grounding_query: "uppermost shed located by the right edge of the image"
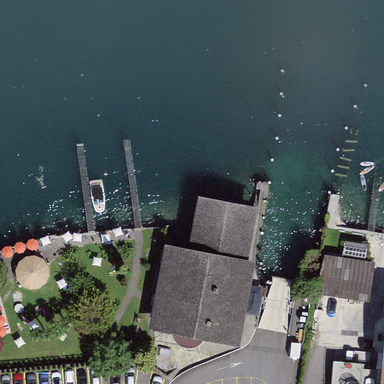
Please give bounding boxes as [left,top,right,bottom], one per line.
[344,240,368,257]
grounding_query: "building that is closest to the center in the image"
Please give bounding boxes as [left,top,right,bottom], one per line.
[188,196,259,259]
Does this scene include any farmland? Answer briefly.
No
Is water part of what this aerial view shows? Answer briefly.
Yes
